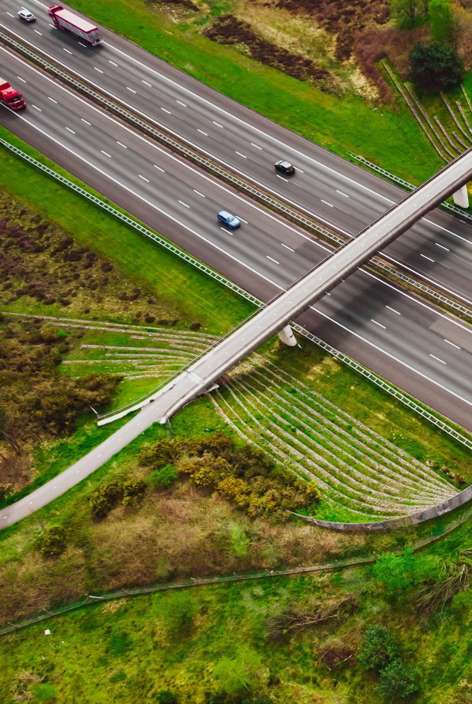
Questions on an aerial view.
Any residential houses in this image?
No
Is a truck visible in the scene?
Yes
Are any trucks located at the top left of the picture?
Yes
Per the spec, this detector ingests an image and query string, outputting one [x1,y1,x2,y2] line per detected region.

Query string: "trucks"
[0,79,27,111]
[49,7,105,46]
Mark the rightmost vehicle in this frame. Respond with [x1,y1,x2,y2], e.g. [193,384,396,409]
[274,162,296,176]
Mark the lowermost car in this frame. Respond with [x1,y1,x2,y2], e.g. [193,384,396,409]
[217,212,242,231]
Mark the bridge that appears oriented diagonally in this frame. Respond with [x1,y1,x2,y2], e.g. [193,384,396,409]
[92,147,472,429]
